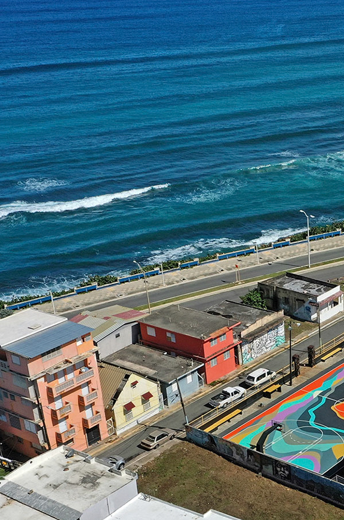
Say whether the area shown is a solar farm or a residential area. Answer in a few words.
residential area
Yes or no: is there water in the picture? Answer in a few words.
Yes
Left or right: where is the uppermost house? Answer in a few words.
right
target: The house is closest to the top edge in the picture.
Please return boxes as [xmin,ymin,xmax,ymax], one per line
[258,272,344,321]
